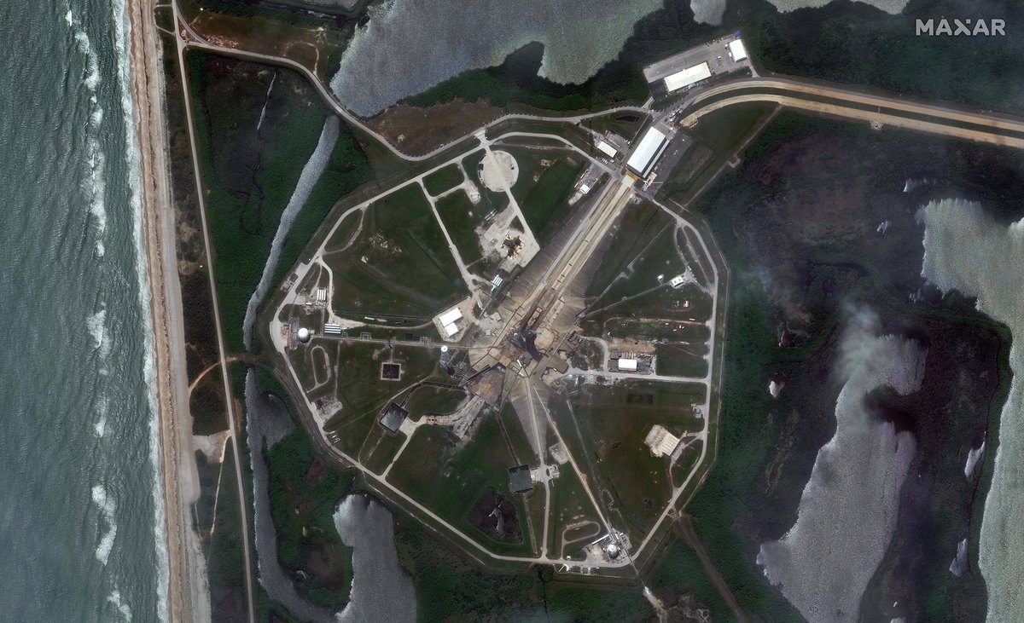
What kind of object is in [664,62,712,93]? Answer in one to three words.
shed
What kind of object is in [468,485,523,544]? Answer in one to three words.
pond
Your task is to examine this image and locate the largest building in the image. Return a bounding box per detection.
[627,126,669,178]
